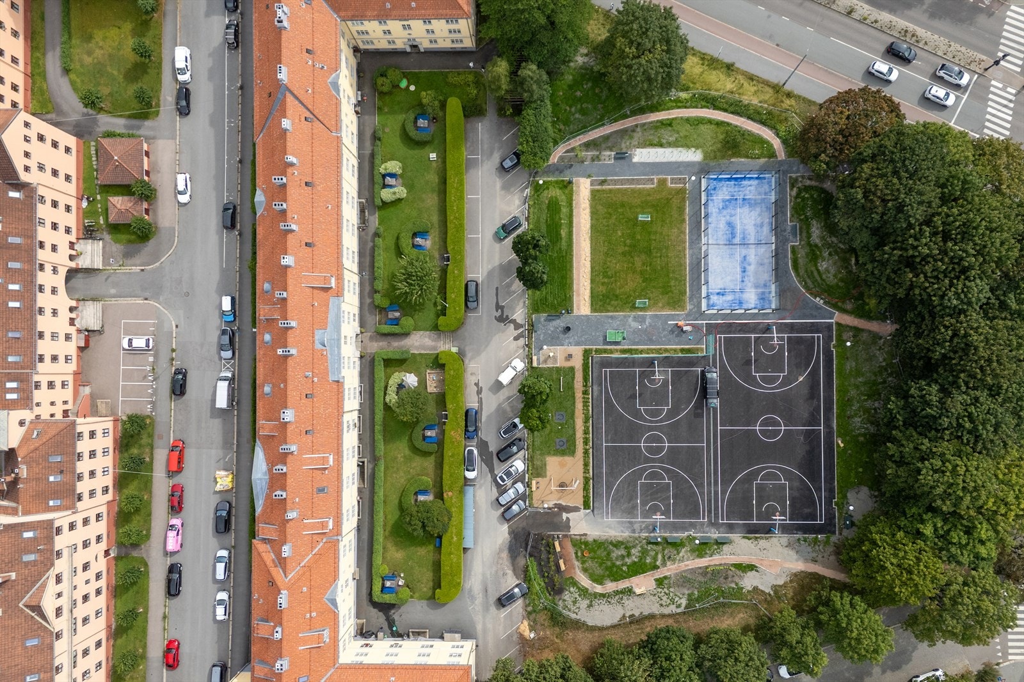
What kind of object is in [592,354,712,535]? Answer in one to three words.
basketball court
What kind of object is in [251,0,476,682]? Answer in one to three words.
building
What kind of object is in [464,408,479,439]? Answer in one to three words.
car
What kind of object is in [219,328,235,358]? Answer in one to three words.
car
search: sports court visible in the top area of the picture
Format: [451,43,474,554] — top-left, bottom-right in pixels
[701,168,782,313]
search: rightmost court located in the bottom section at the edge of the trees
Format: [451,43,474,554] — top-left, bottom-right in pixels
[706,322,836,535]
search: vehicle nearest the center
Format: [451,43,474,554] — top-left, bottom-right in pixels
[496,358,528,387]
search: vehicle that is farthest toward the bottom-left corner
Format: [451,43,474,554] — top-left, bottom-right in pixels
[165,639,181,670]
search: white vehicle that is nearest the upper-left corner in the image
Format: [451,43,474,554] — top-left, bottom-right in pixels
[176,46,192,82]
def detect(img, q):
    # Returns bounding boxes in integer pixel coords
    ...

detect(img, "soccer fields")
[591,178,687,313]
